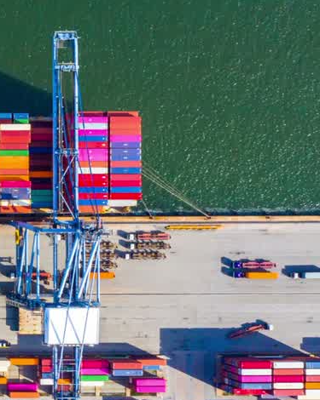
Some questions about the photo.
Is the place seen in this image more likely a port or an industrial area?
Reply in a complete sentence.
What you see here is a port.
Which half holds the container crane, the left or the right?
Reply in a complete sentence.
You can find the container crane on the left side of the picture.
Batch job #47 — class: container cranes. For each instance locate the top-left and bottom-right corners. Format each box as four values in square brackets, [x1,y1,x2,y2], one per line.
[0,31,114,400]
